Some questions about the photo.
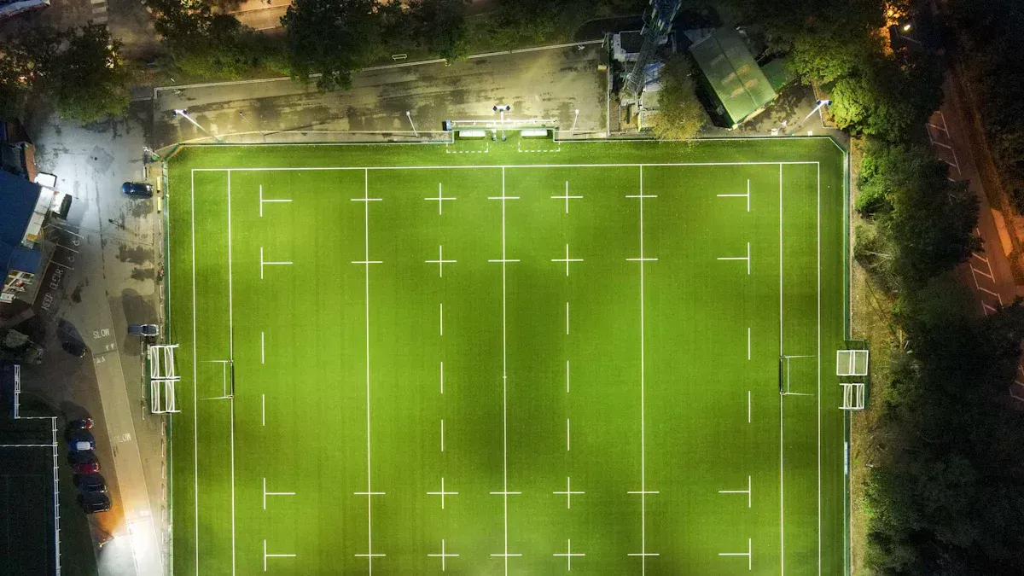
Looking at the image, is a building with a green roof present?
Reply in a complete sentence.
Yes, the frame does contain a building with a green roof.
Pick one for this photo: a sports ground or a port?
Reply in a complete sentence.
This image shows a sports ground.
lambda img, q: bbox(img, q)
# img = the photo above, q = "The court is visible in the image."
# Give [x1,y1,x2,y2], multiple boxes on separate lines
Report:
[0,363,56,576]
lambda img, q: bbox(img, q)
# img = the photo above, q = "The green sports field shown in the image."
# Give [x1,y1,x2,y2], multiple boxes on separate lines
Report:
[147,130,863,576]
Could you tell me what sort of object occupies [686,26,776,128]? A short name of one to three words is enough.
building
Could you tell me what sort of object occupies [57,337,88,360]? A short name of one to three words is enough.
car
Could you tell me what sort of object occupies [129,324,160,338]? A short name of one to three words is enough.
vehicle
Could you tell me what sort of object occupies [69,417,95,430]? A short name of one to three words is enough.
vehicle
